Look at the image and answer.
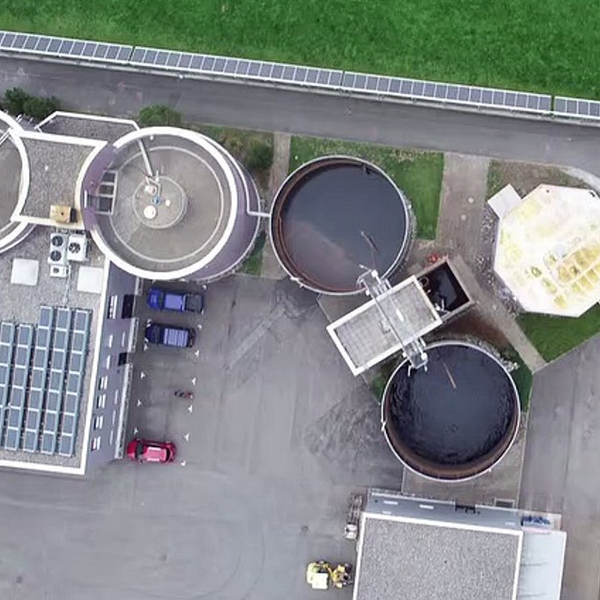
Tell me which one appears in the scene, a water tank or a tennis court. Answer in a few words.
water tank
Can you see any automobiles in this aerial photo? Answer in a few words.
Yes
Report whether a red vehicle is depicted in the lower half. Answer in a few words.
Yes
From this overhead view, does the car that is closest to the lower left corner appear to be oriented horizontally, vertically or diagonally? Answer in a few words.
horizontally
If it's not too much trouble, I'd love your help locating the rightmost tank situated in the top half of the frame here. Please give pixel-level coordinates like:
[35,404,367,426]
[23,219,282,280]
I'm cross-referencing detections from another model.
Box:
[271,155,412,295]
